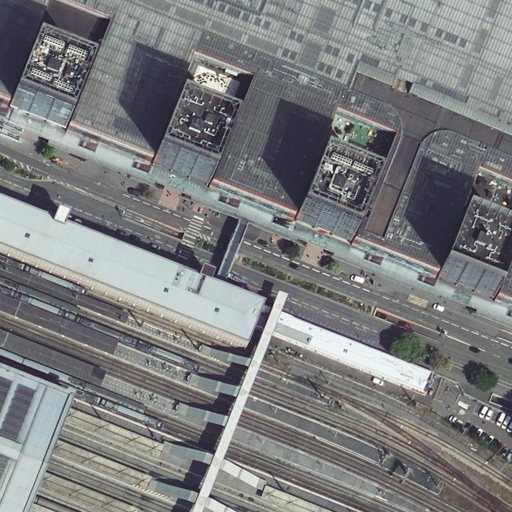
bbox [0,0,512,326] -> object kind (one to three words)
building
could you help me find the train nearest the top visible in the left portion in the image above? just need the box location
[0,254,87,296]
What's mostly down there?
buildings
